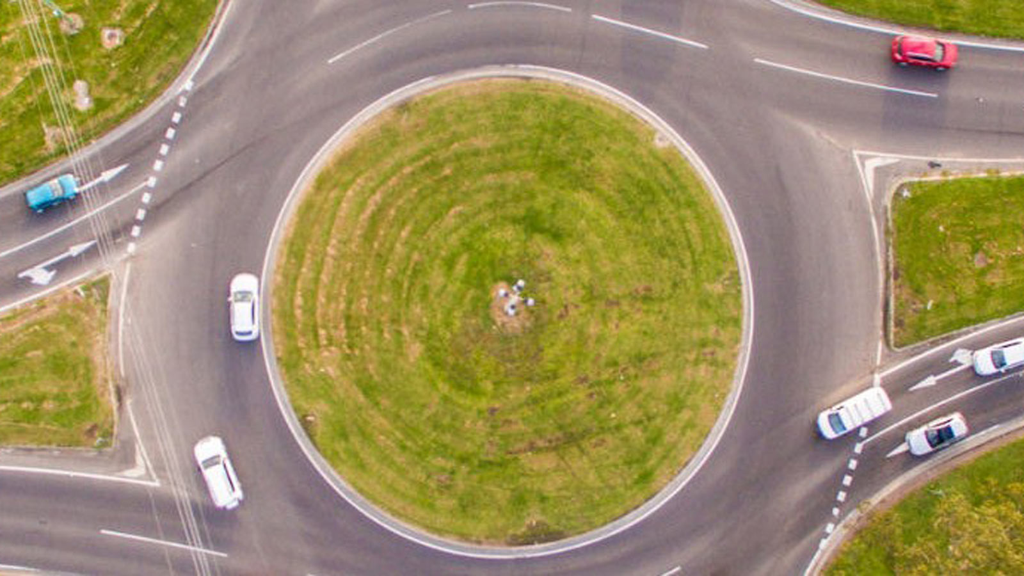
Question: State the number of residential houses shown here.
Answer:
0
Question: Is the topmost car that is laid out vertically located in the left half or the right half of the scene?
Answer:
left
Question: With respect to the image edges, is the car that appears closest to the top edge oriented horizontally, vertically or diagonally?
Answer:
horizontally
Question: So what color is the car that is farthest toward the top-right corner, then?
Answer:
red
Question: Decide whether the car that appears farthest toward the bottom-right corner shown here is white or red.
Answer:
white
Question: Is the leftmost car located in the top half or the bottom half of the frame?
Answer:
top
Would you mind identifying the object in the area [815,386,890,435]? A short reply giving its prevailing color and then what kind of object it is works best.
white van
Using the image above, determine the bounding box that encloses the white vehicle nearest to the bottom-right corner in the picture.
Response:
[904,411,965,452]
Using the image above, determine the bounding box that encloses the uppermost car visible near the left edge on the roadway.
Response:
[25,173,83,211]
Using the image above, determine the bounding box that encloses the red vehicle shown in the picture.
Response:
[890,38,958,70]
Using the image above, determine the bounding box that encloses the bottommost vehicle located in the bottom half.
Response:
[198,435,245,512]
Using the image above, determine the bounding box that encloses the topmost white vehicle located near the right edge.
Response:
[969,332,1024,372]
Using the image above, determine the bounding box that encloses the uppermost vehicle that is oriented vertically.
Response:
[227,273,261,341]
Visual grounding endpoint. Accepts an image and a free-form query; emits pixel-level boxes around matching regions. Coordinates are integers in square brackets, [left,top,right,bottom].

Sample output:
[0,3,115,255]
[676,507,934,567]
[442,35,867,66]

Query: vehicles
[227,273,261,341]
[815,386,890,435]
[890,38,958,70]
[904,411,965,452]
[969,332,1024,372]
[198,435,245,512]
[25,173,83,211]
